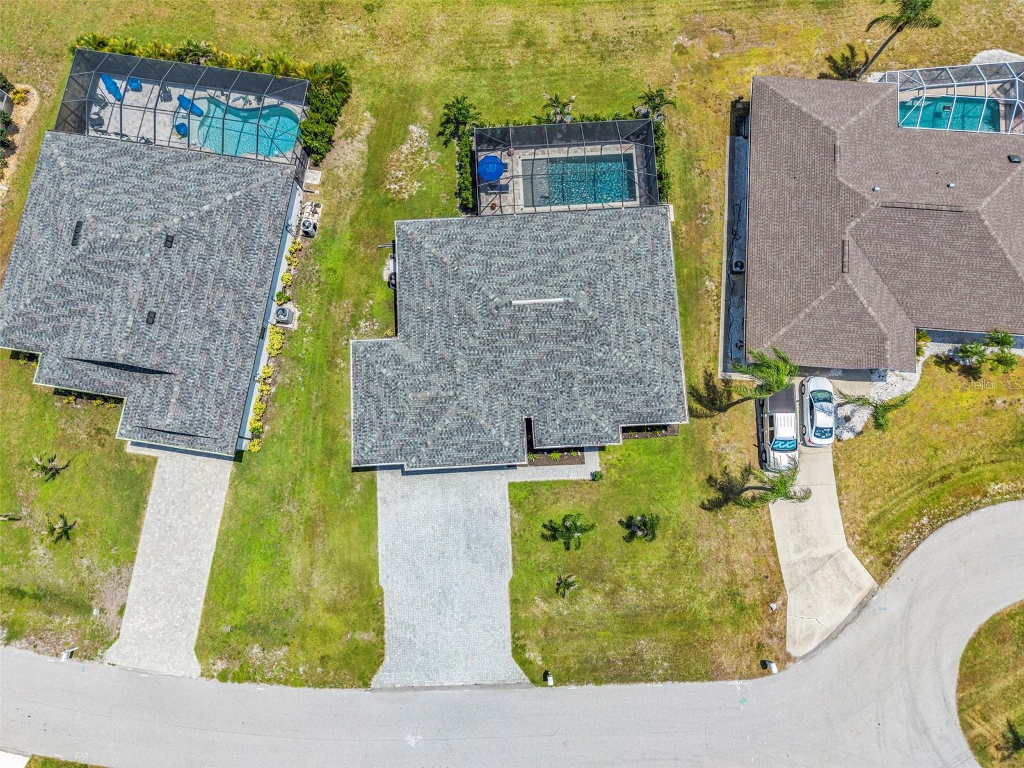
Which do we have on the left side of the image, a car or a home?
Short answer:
home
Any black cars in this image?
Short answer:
No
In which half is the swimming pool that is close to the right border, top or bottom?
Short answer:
top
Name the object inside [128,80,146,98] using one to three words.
umbrella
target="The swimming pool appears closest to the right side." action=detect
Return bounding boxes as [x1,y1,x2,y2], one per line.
[899,93,1003,133]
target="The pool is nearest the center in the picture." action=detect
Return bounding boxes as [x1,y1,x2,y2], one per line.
[517,148,642,211]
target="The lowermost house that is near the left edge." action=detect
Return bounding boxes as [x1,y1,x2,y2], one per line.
[0,131,308,457]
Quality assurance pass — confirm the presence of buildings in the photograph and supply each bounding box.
[349,204,693,472]
[0,131,308,457]
[741,75,1024,375]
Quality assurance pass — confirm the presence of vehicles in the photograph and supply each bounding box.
[799,378,835,451]
[758,381,800,475]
